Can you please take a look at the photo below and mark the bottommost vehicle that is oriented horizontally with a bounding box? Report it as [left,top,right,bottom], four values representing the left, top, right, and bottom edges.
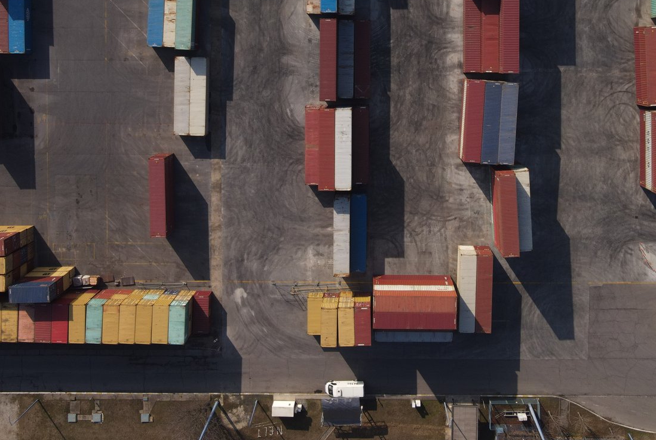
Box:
[326,376,364,394]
